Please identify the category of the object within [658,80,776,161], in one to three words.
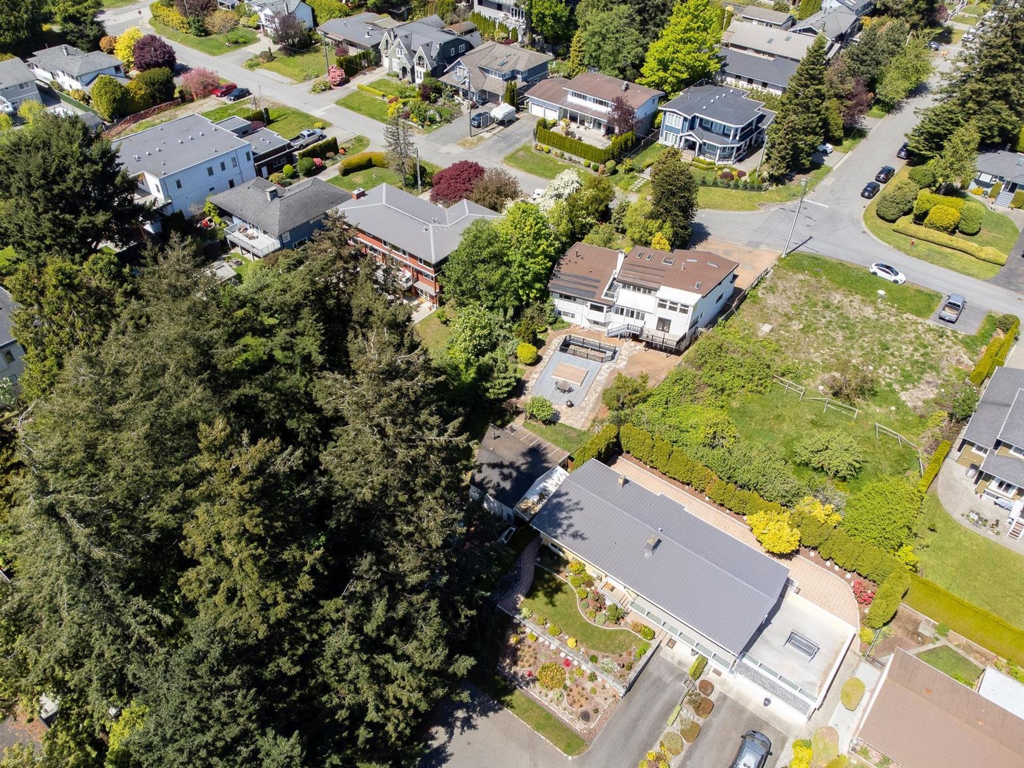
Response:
house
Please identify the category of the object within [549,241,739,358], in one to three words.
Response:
house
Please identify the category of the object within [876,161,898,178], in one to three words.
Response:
car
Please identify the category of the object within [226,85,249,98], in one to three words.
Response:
vehicle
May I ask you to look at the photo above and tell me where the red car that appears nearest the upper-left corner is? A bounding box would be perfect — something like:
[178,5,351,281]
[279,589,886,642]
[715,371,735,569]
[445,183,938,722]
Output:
[211,80,236,93]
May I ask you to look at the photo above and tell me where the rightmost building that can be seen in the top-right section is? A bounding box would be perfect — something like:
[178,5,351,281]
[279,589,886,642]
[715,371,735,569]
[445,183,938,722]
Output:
[970,147,1024,209]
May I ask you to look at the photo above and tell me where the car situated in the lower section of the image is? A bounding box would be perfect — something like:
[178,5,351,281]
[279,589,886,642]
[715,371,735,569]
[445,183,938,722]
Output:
[728,727,770,768]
